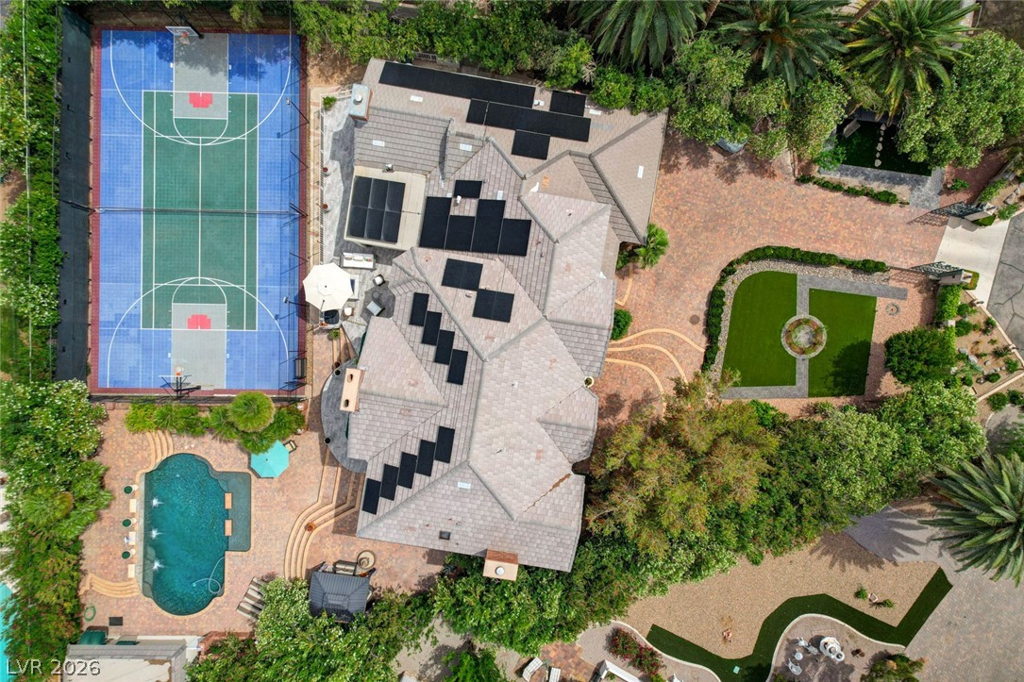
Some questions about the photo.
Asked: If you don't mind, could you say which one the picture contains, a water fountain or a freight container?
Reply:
water fountain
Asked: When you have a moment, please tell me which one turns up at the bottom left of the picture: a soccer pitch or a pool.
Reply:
pool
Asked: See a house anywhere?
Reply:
Yes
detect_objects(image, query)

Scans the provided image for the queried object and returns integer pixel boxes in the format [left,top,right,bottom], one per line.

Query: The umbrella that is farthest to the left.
[252,439,291,478]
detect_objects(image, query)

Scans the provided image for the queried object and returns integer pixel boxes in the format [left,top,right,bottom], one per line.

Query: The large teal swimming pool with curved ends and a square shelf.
[137,449,255,620]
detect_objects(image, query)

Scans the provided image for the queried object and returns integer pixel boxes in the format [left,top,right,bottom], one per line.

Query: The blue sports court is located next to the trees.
[90,26,306,395]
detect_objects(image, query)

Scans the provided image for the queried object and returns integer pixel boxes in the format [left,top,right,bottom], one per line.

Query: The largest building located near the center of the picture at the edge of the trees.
[340,59,668,581]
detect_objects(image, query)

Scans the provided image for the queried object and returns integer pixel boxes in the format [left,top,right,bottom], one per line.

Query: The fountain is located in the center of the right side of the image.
[782,314,829,360]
